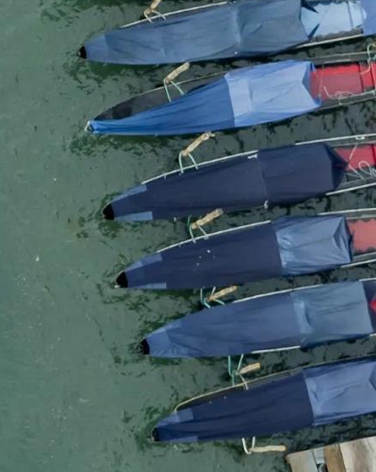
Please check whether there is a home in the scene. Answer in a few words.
No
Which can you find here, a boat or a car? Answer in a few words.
boat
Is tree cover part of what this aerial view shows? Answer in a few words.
No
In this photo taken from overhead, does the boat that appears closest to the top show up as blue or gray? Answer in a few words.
blue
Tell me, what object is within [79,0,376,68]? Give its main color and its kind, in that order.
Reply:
blue boat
